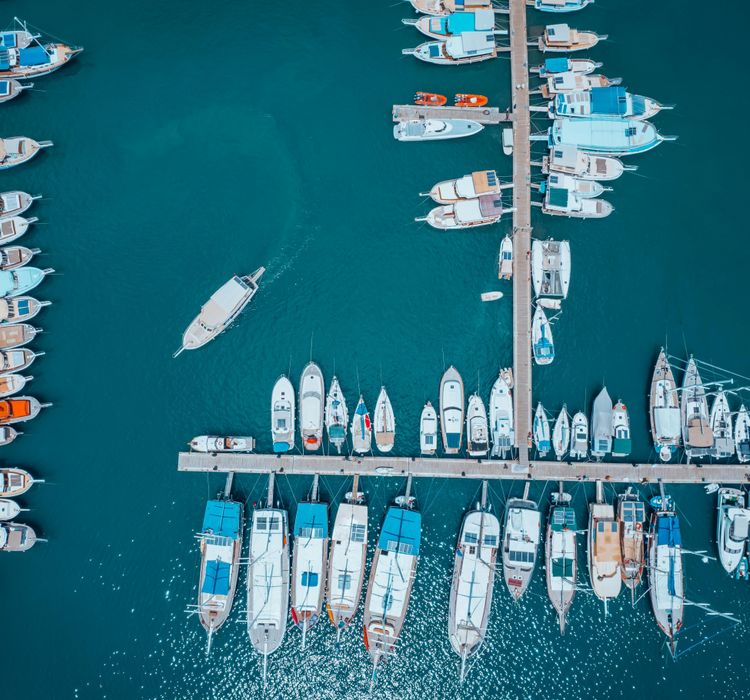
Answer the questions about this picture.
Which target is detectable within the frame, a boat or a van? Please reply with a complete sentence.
I can see a boat in this picture.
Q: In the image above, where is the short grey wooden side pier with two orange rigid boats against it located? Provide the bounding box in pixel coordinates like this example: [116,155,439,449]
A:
[393,105,499,124]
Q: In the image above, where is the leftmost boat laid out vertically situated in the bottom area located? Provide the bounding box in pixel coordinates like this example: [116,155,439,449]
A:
[177,472,250,654]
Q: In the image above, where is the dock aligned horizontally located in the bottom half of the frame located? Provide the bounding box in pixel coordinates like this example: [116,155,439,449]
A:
[178,451,750,485]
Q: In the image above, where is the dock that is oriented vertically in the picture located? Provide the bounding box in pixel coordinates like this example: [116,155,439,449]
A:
[509,0,531,447]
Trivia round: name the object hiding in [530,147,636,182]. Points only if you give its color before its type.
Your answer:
white boat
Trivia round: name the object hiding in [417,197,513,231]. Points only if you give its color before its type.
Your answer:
white boat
